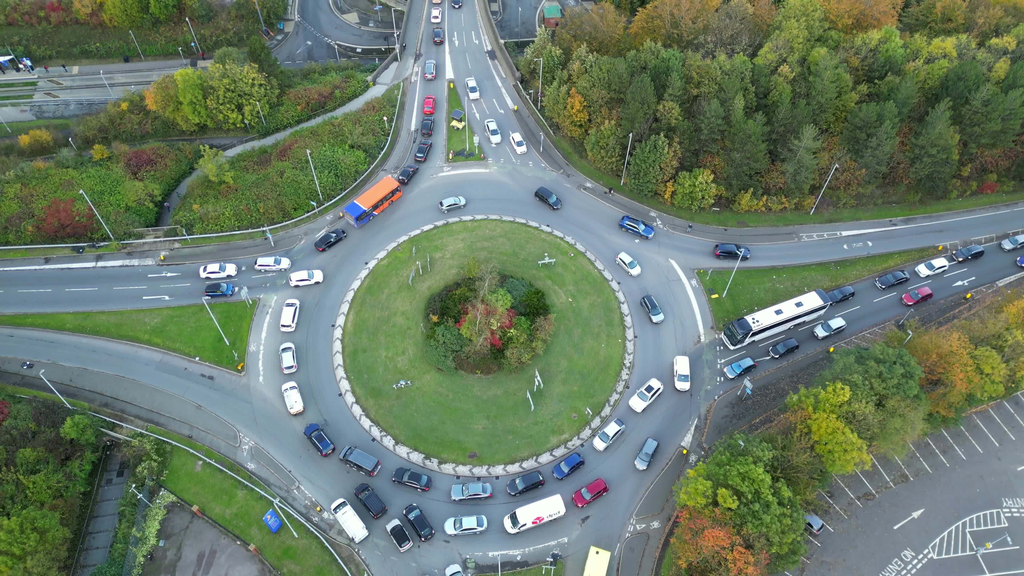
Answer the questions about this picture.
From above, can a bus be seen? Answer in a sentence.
Yes, I can see a bus in this picture.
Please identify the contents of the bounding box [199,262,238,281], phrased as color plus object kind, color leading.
white car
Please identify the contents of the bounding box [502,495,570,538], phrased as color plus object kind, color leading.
white van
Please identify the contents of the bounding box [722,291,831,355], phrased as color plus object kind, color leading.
white bus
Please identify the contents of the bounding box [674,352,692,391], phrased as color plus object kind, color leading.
white vehicle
